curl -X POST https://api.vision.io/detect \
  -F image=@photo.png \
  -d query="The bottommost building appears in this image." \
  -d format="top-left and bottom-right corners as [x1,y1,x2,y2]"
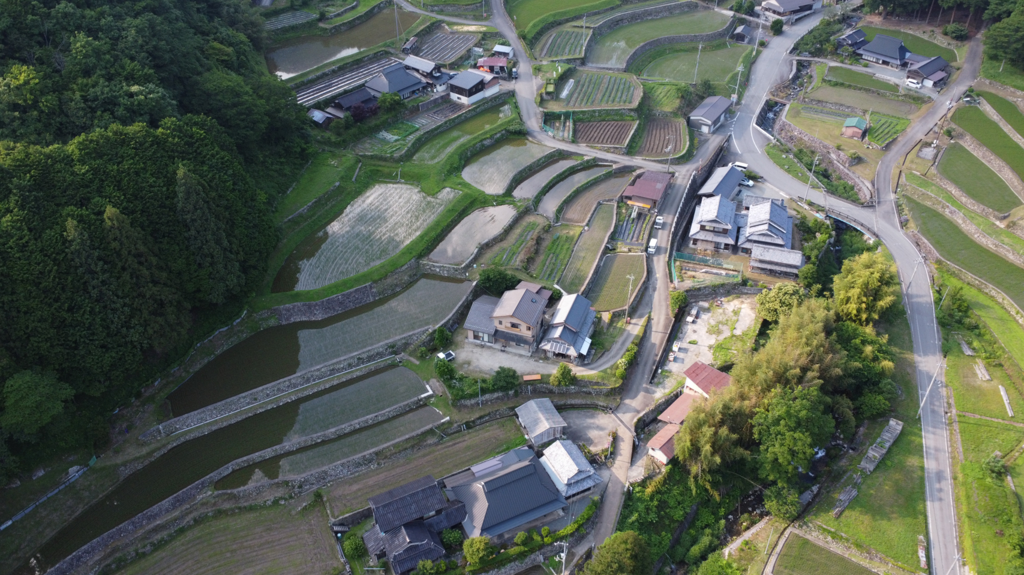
[361,518,446,575]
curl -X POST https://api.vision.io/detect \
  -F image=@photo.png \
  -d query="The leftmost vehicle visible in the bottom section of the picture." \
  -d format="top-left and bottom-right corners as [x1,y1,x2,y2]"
[435,349,456,362]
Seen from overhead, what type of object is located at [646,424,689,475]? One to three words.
shed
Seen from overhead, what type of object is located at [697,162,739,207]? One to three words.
barn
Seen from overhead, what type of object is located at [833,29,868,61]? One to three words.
house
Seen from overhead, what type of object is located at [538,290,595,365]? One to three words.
building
